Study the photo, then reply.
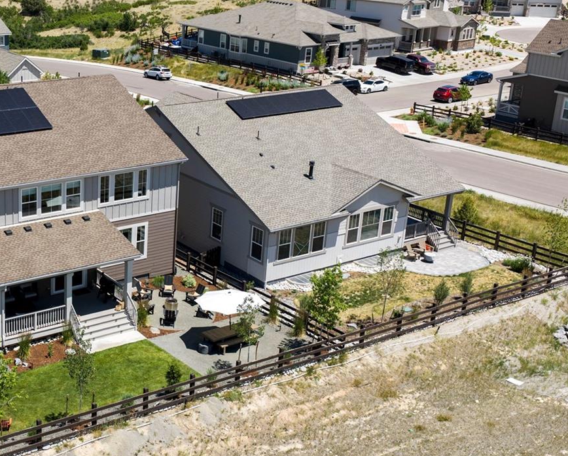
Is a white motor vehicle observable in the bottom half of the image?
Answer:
No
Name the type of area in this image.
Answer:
residential area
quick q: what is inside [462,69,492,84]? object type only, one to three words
car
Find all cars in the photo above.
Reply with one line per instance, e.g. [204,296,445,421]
[375,53,415,71]
[142,62,179,80]
[329,73,366,91]
[436,82,470,99]
[462,69,492,84]
[358,77,392,93]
